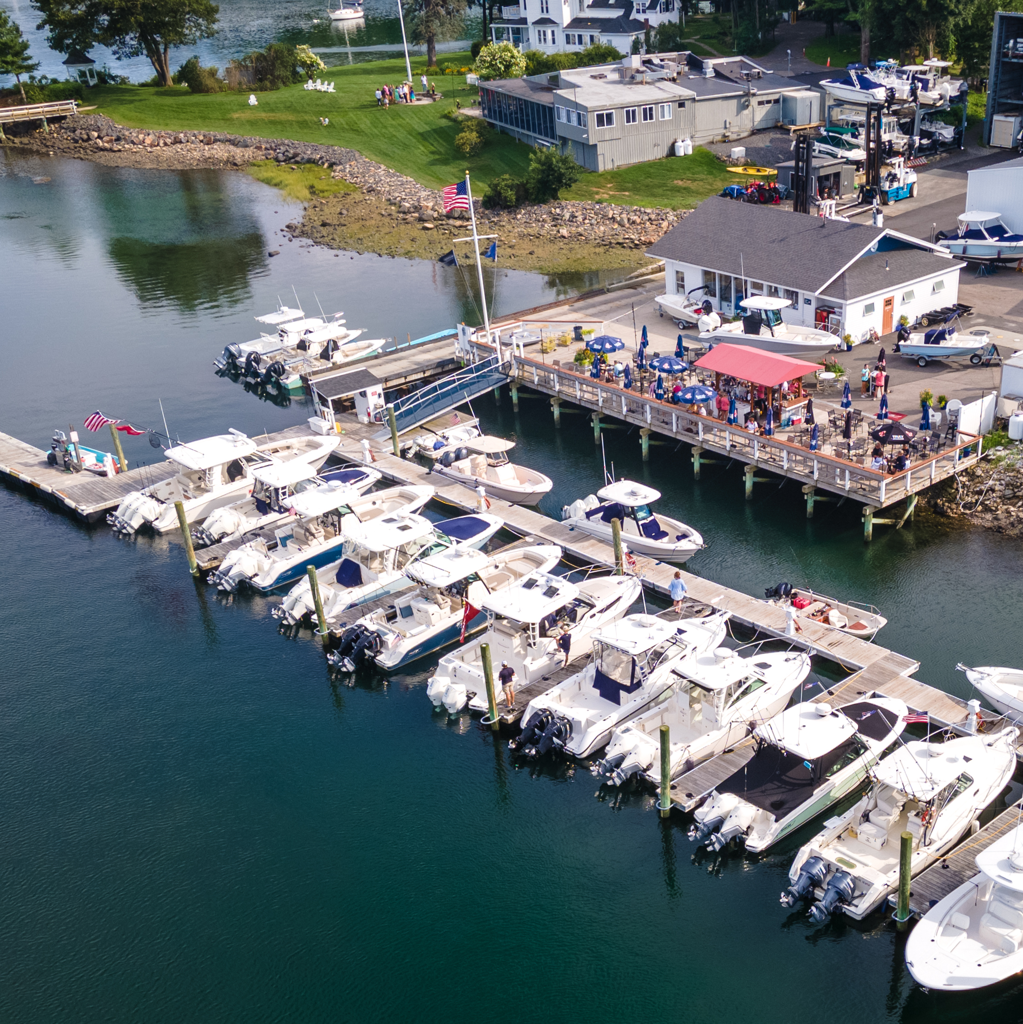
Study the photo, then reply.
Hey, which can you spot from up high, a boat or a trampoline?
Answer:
boat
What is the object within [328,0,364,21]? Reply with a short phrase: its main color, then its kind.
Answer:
white boat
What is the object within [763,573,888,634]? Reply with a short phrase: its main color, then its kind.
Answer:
white boat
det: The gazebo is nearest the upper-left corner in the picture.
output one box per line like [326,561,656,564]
[56,39,93,85]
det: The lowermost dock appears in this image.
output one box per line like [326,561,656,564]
[875,841,973,940]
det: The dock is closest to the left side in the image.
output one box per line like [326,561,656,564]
[0,429,100,502]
